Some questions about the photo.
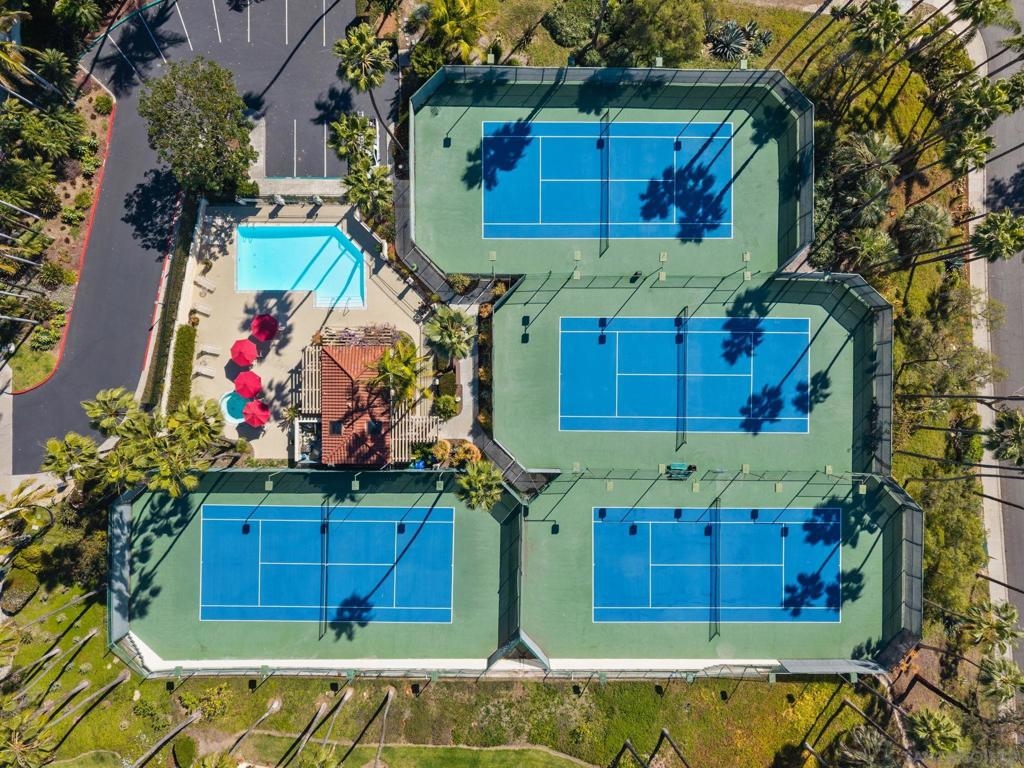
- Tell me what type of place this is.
sports ground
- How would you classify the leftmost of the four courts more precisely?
tennis court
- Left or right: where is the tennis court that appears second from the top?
right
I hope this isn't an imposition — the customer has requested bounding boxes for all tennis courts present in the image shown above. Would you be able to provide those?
[414,82,799,278]
[493,278,872,471]
[129,467,521,660]
[522,471,903,660]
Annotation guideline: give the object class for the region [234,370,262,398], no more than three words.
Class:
umbrella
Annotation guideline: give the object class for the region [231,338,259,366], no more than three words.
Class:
umbrella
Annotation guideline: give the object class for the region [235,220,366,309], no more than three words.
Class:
swimming pool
